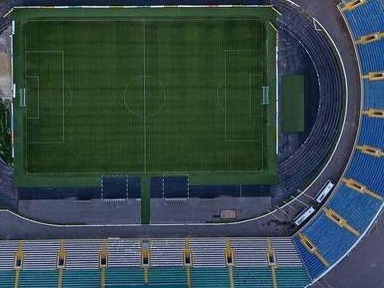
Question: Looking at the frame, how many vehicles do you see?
2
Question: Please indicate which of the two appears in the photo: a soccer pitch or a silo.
soccer pitch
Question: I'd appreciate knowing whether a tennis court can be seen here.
No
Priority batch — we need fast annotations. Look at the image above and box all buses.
[291,204,317,227]
[311,179,334,204]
